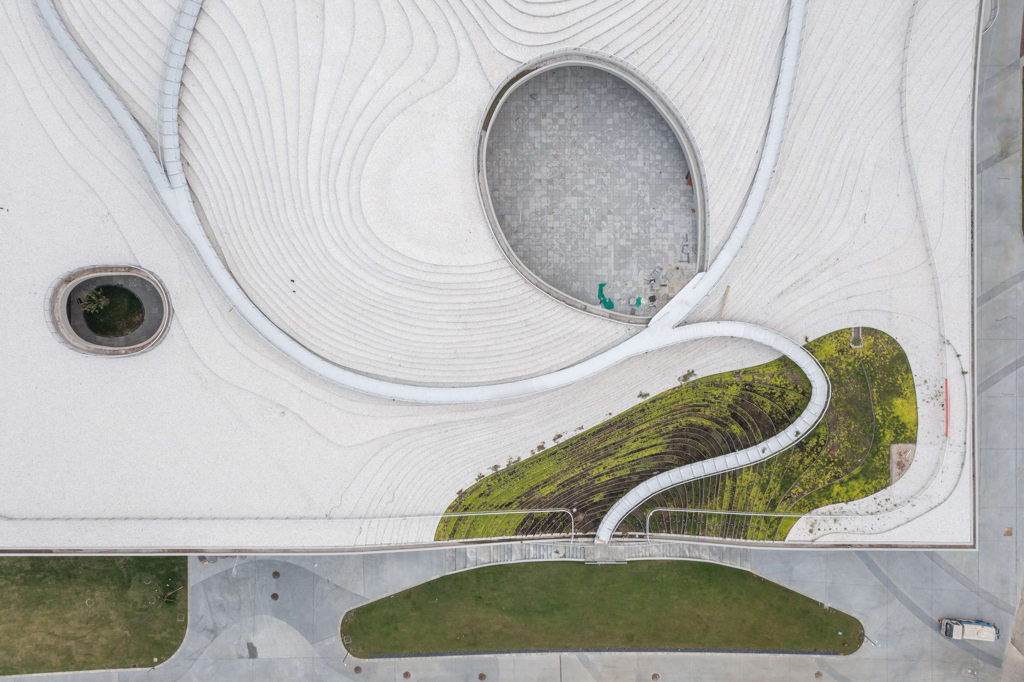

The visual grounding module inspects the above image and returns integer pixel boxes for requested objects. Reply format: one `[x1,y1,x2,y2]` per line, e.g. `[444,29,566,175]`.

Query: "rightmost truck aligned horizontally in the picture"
[937,614,999,640]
